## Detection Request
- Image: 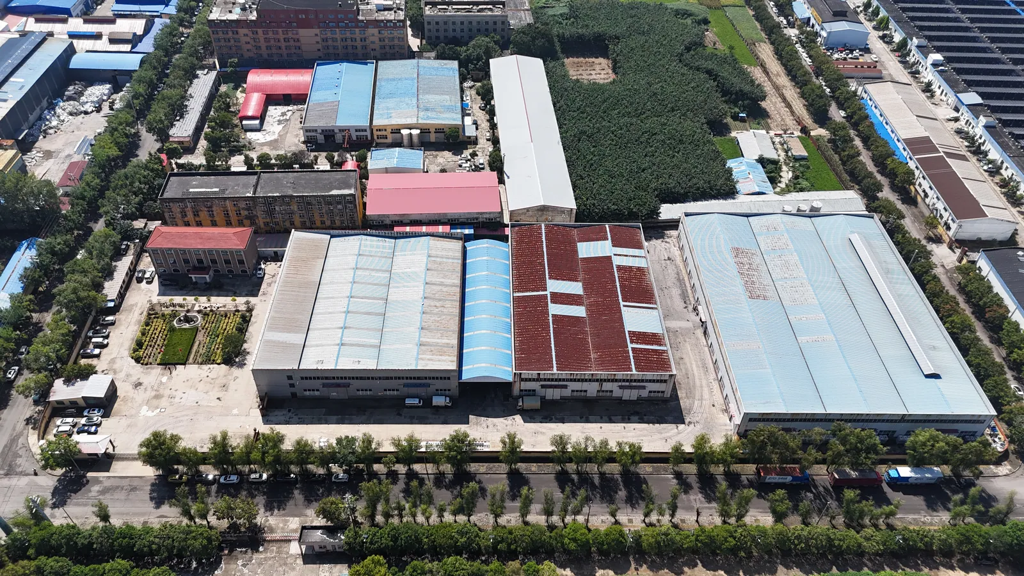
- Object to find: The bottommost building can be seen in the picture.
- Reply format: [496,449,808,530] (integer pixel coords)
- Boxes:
[299,525,352,551]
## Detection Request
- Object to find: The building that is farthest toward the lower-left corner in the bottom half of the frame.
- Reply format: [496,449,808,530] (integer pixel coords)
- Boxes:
[64,434,116,458]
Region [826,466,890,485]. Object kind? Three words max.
vehicle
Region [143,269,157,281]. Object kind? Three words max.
vehicle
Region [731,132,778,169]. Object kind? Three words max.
shed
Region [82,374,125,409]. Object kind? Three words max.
building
